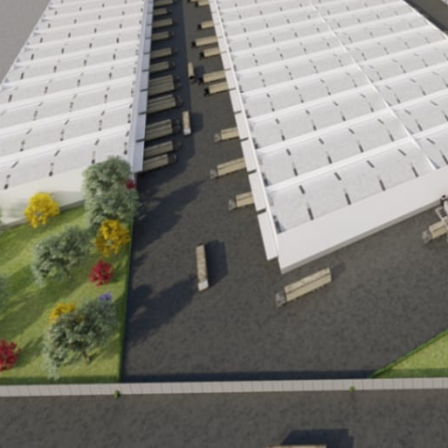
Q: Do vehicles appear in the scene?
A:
Yes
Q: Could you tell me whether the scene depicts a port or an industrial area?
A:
industrial area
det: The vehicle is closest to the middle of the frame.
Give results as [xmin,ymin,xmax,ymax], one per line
[227,190,252,212]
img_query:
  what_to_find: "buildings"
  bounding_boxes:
[0,0,155,231]
[208,0,448,273]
